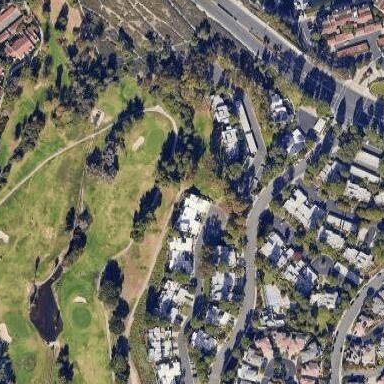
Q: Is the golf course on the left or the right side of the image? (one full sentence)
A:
You can find the golf course on the left side of the picture.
